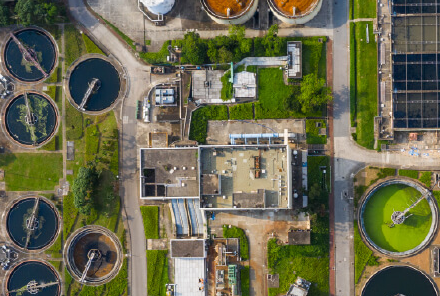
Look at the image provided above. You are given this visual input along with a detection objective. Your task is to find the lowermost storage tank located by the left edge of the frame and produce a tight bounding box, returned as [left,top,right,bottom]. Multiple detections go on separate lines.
[6,259,62,296]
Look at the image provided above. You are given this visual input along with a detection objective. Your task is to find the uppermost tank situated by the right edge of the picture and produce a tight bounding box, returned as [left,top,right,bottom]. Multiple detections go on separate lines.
[357,176,439,259]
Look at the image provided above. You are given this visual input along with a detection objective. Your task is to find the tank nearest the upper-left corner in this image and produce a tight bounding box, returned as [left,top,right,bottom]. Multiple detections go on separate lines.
[3,27,60,83]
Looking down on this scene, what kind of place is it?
industrial area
